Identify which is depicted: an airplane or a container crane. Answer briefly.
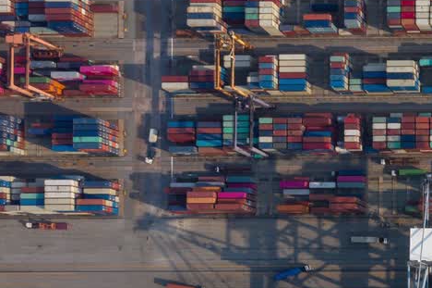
container crane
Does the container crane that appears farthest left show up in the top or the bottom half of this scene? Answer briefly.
top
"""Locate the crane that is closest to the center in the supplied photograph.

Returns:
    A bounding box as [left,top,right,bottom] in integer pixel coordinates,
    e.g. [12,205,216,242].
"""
[230,91,273,162]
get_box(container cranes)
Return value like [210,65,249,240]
[213,29,254,102]
[3,30,58,103]
[230,91,273,162]
[407,171,432,288]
